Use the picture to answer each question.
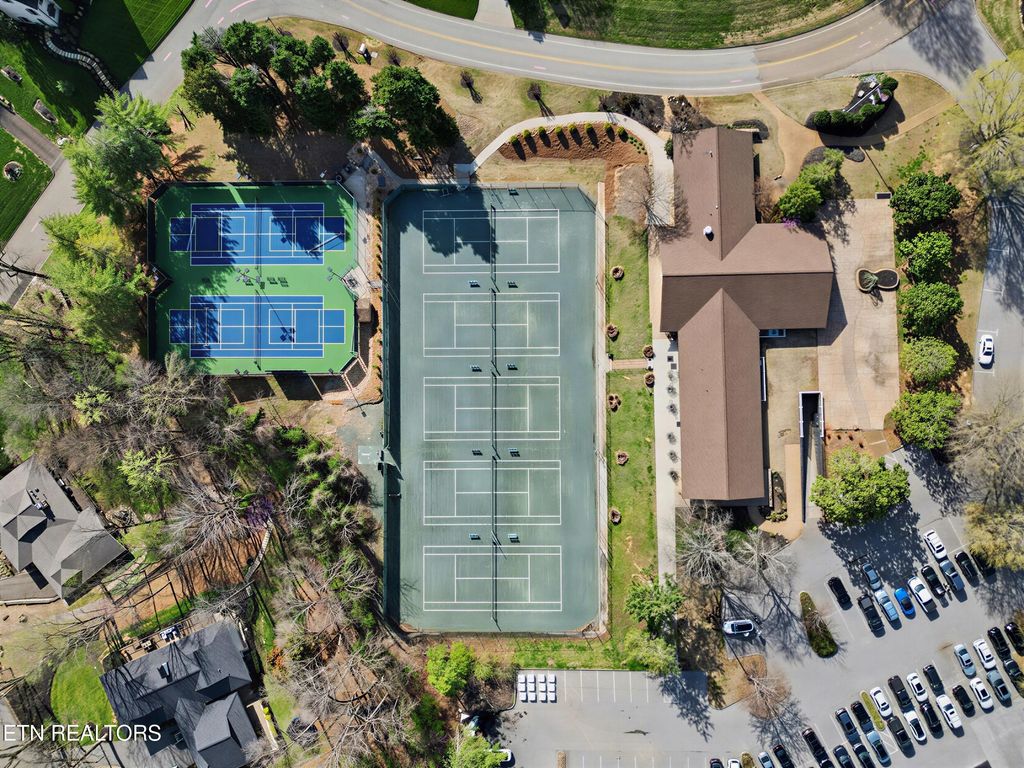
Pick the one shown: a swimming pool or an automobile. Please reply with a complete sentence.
I can see an automobile in this picture.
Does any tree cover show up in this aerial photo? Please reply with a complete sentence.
Yes, the picture does contain tree cover.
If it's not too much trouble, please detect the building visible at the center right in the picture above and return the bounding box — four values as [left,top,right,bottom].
[660,126,834,500]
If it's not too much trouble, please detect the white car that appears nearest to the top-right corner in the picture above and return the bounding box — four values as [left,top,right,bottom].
[977,336,993,365]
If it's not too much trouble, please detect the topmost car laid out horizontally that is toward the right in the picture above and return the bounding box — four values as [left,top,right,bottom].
[724,620,753,634]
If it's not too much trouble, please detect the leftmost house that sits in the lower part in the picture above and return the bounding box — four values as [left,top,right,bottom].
[0,455,133,600]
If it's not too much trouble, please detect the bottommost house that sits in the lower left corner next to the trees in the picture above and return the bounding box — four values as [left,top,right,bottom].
[99,613,264,768]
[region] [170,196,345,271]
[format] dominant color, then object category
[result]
blue tennis court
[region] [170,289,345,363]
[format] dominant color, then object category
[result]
blue tennis court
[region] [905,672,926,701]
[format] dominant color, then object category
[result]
white car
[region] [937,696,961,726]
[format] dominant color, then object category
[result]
white car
